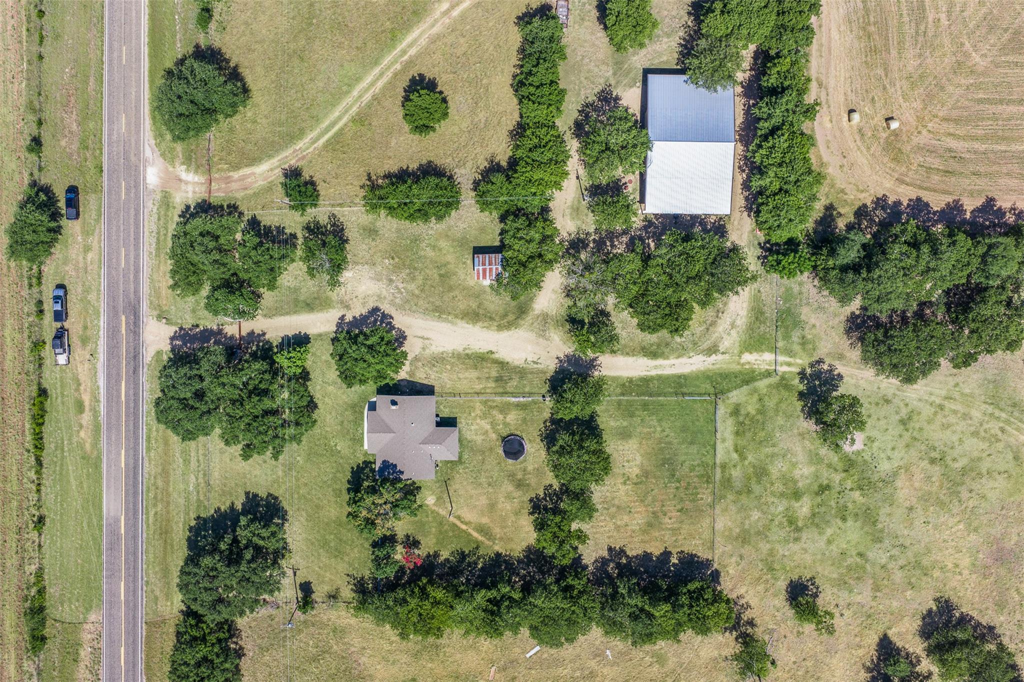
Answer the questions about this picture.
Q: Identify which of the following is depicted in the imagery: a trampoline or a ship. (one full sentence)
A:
There is a trampoline in the scene.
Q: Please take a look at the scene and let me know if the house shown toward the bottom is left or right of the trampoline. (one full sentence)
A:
To the left of the trampoline is where the house shown toward the bottom appears.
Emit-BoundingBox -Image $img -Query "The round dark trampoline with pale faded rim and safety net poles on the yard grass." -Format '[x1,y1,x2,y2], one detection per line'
[502,435,526,459]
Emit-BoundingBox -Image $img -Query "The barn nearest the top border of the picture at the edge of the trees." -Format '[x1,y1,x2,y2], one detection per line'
[641,74,735,218]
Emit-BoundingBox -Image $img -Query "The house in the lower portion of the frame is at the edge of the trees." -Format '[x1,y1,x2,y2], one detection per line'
[365,395,458,482]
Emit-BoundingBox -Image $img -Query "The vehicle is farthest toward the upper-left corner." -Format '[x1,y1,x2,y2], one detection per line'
[63,188,80,223]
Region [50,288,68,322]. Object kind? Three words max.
vehicle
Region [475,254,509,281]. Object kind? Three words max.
shed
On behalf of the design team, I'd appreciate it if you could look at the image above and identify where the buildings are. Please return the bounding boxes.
[365,395,458,482]
[641,74,735,218]
[475,254,509,281]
